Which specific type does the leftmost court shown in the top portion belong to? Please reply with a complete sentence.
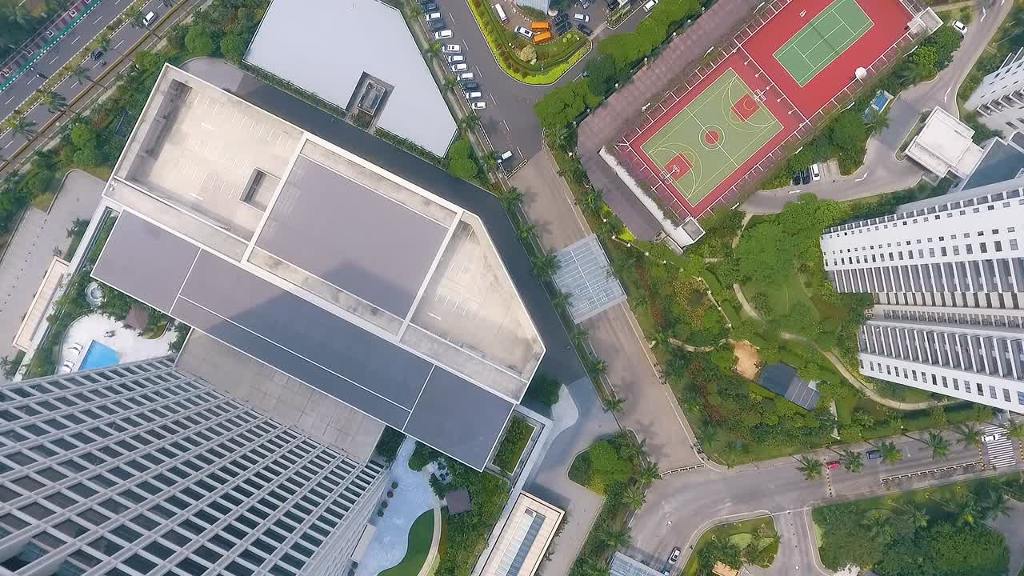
The leftmost court shown in the top portion in the image is a basketball court.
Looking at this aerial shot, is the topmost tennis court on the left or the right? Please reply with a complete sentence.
It is on the right.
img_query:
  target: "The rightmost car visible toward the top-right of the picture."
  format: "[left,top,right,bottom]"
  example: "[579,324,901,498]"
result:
[952,20,967,33]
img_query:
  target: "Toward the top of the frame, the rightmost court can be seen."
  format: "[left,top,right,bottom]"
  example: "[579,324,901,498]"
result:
[741,0,916,120]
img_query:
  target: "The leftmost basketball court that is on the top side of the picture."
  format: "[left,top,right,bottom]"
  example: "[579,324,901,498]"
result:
[629,47,806,217]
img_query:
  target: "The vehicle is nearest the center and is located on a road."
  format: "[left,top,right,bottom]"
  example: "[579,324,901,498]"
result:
[498,150,513,162]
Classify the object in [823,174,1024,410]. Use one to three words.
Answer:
building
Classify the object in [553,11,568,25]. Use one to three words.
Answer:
car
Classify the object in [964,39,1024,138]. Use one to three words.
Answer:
building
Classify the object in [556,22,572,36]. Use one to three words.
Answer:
car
